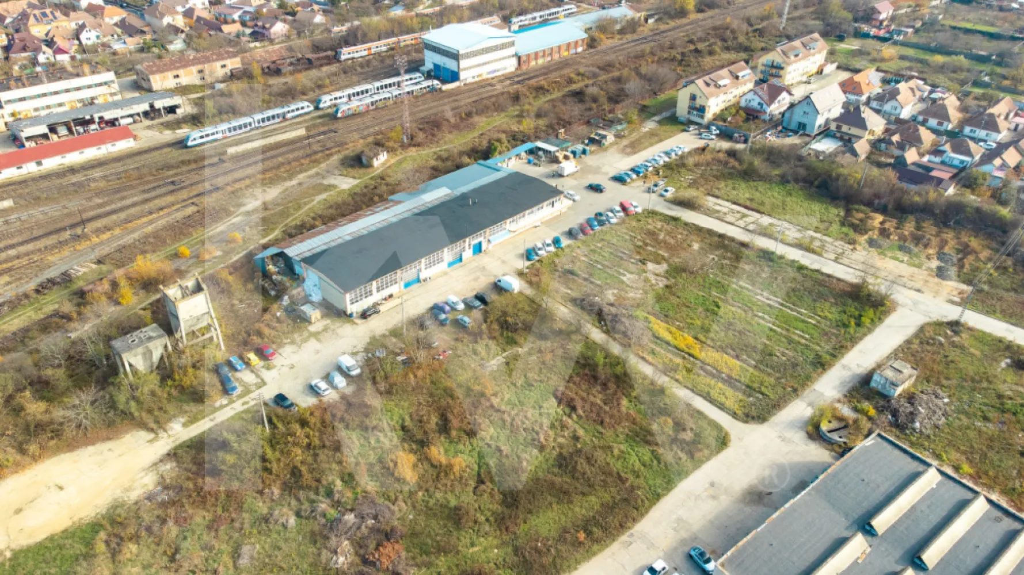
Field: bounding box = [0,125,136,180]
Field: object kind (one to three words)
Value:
shed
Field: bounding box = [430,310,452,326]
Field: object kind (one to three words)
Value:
car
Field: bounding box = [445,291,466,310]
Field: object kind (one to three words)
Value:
vehicle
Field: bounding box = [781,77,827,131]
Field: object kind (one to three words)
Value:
house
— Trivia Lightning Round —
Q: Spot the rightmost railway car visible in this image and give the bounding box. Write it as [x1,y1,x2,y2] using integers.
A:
[514,6,576,29]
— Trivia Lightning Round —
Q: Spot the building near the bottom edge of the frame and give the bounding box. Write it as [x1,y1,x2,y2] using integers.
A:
[716,435,1024,575]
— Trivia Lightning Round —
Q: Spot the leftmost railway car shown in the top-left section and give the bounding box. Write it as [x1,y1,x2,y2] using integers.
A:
[184,98,317,144]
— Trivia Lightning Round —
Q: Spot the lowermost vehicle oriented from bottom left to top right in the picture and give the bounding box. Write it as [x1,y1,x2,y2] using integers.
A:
[640,552,675,575]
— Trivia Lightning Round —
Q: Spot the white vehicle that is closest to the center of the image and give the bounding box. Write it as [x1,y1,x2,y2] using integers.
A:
[494,275,522,295]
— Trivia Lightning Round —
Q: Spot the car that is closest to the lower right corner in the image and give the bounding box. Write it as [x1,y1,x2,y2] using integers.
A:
[685,544,719,575]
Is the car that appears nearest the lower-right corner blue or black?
blue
